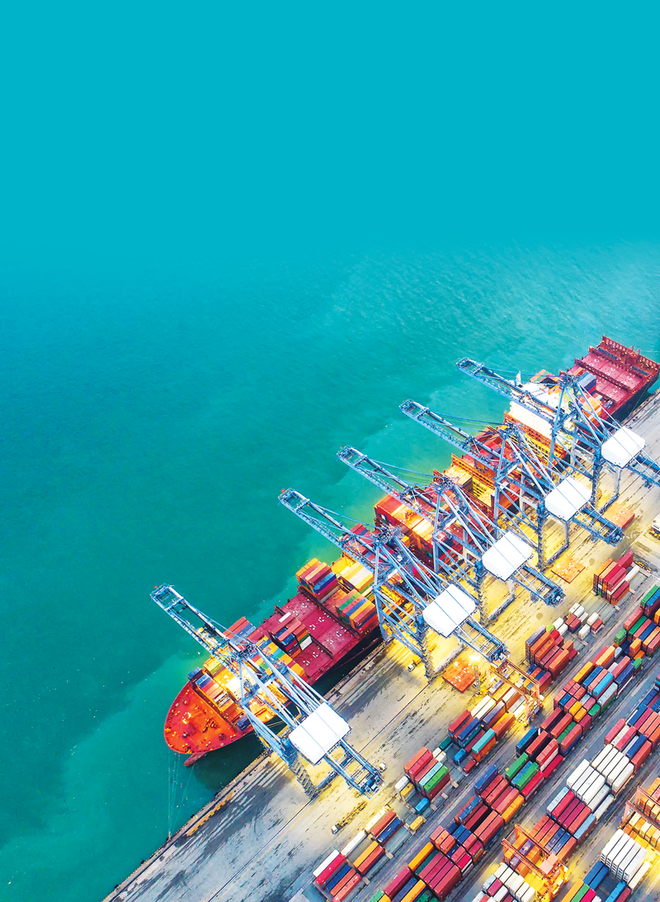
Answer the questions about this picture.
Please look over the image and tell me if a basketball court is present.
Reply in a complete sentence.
No, there is no basketball court in the image.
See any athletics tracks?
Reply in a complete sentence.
No, no athletics track can be seen from above.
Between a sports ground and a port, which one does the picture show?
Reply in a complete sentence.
This image shows a port.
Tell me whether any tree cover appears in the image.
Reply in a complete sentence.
No, there is no tree cover in the image.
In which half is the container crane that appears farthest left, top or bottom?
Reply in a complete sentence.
You can find the container crane that appears farthest left in the bottom half.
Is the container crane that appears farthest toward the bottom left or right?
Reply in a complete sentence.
The container crane that appears farthest toward the bottom sits on the right side.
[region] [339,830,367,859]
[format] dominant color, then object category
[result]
white shipping container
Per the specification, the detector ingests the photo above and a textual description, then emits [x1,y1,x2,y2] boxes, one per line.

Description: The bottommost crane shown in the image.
[501,822,570,901]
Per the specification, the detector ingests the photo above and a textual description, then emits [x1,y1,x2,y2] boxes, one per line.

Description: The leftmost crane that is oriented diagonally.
[144,578,390,805]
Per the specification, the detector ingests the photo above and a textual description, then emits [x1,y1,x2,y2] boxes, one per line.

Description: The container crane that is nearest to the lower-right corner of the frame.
[622,788,660,837]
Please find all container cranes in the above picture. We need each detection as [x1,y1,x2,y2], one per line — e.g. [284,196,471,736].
[274,484,515,687]
[333,443,570,633]
[622,788,660,837]
[501,822,570,901]
[396,397,628,577]
[144,578,390,805]
[456,354,660,522]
